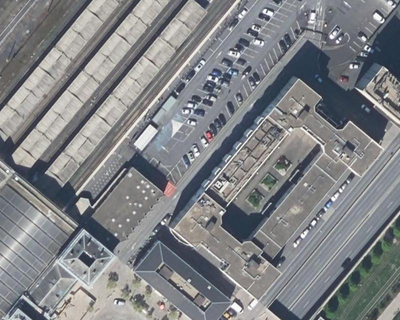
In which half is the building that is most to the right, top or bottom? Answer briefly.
top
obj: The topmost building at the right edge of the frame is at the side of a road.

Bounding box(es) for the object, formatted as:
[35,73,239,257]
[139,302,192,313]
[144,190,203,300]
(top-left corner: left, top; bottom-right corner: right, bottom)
[356,64,400,124]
